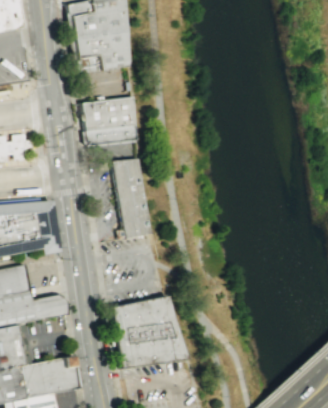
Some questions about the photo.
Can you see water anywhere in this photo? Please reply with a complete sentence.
Yes, water shows up in the scene.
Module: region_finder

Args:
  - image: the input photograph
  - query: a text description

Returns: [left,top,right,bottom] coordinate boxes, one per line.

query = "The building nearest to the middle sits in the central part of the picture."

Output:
[114,159,167,260]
